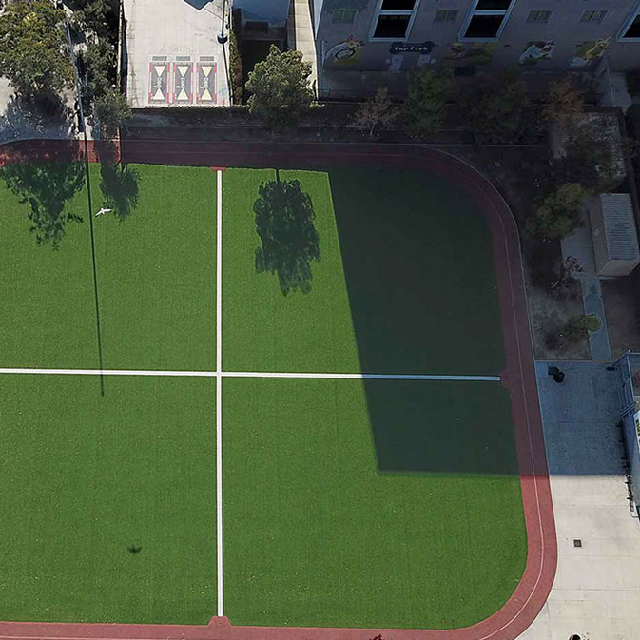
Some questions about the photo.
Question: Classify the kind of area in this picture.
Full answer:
What you see here is a sports ground.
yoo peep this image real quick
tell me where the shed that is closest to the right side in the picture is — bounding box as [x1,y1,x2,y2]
[591,191,640,274]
